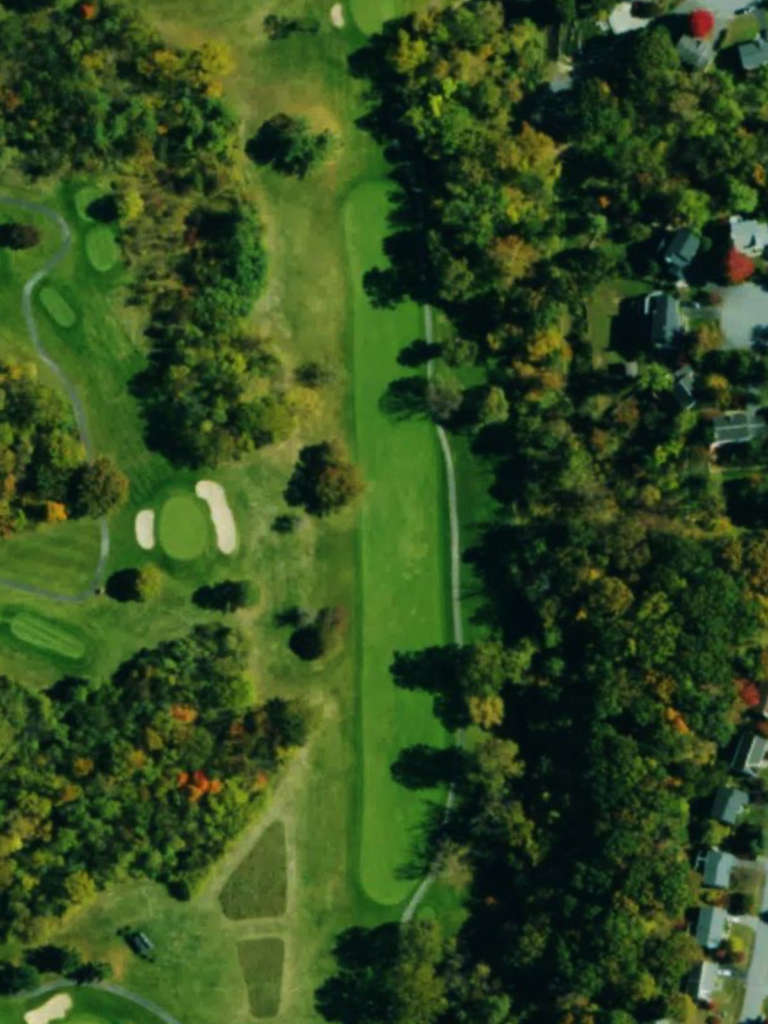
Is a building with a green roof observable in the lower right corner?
Yes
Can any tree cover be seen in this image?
Yes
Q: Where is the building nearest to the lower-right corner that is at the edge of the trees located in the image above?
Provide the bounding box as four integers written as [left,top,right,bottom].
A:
[687,962,722,1003]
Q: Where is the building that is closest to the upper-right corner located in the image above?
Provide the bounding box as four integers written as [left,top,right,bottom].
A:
[738,36,768,68]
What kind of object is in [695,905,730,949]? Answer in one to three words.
house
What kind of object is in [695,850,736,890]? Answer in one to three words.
house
